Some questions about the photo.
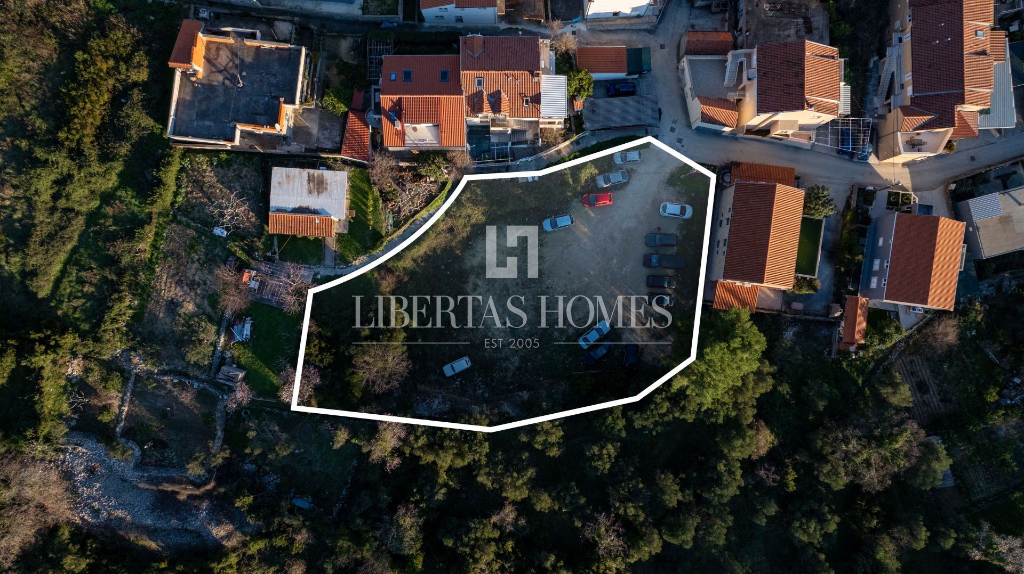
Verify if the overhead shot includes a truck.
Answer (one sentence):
No, I can see no truck in this picture.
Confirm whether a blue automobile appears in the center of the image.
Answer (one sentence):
Yes, a blue automobile can be seen in the center of the image.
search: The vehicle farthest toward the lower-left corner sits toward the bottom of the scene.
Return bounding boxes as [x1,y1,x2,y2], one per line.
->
[441,356,472,378]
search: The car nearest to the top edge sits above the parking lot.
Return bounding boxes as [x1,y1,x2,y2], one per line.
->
[607,79,637,95]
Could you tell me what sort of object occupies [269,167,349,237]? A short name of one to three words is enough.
shed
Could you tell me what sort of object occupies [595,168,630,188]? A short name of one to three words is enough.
car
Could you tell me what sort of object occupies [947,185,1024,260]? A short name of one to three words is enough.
house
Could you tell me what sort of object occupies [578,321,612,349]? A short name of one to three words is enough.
car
